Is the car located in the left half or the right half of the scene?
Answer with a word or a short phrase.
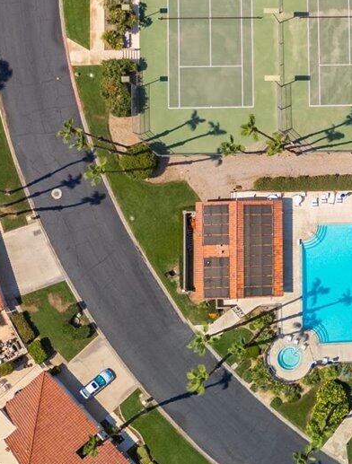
left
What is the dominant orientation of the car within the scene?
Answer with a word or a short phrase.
diagonally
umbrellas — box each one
[269,191,279,200]
[293,195,305,207]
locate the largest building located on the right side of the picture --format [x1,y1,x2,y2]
[195,200,283,299]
